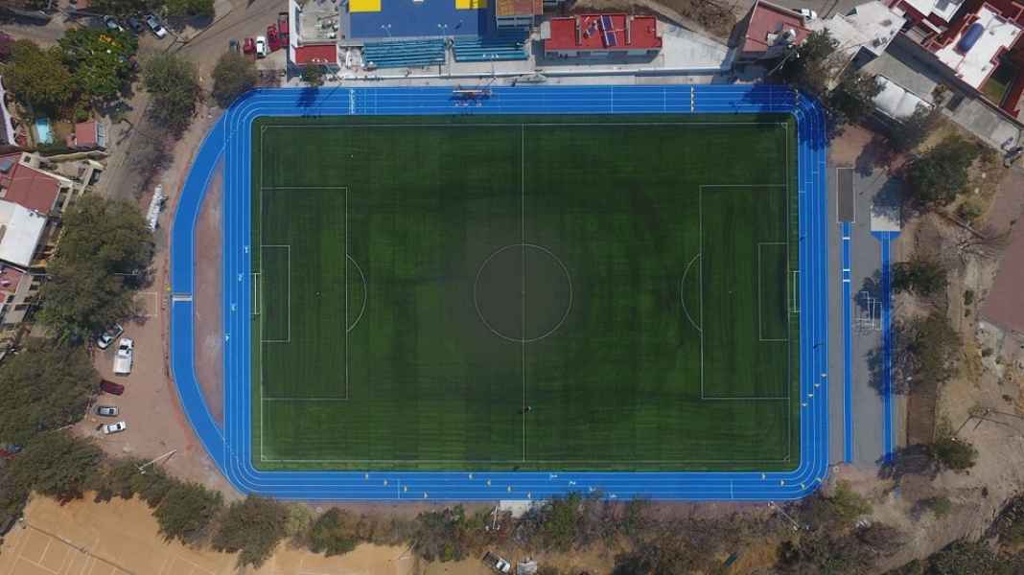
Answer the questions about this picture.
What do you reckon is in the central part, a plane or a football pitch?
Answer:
football pitch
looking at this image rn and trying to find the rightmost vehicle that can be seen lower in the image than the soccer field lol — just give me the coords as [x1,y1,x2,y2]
[481,551,513,574]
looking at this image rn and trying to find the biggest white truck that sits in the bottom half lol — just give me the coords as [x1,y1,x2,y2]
[108,337,132,376]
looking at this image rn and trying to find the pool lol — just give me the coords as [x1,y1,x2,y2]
[34,115,53,145]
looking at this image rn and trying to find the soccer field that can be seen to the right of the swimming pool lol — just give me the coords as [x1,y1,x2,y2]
[251,112,801,472]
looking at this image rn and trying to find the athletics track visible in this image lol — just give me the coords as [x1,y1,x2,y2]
[171,83,831,501]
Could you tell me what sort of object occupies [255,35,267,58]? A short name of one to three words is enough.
vehicle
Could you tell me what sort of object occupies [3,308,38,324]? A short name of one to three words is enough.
shed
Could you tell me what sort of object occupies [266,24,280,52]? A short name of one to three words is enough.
vehicle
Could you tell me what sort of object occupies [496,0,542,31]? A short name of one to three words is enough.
building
